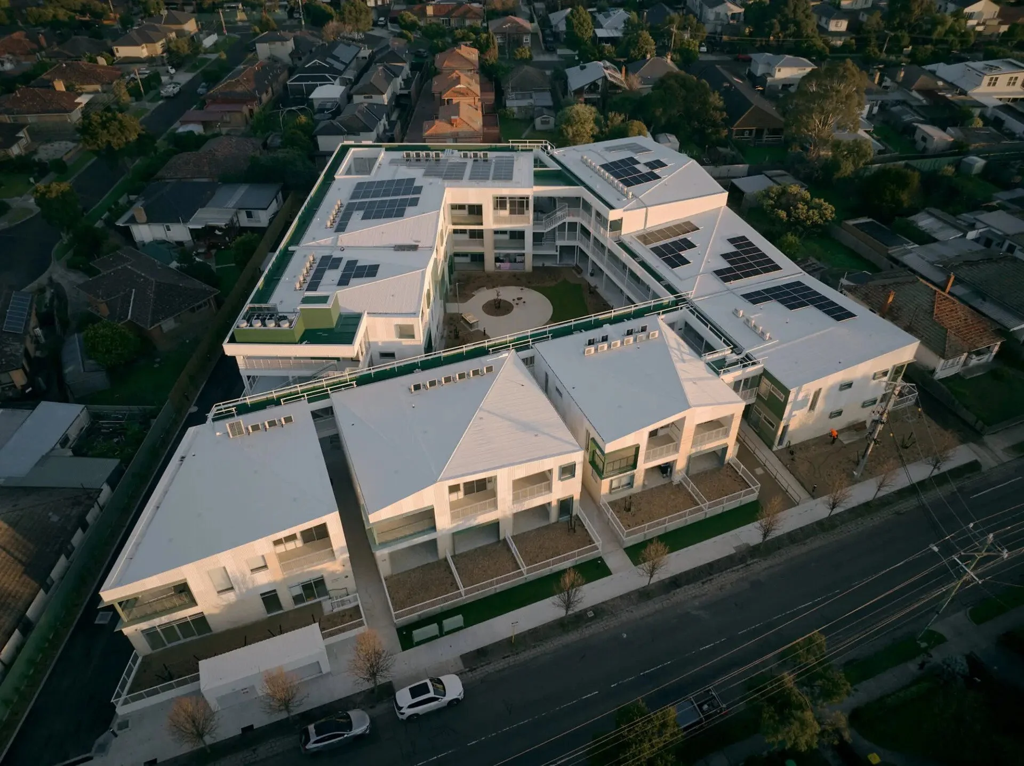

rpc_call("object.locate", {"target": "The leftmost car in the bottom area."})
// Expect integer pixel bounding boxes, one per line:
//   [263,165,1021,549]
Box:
[298,711,372,763]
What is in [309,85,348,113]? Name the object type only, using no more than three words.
house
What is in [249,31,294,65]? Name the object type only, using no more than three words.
house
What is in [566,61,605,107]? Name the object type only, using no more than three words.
shed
